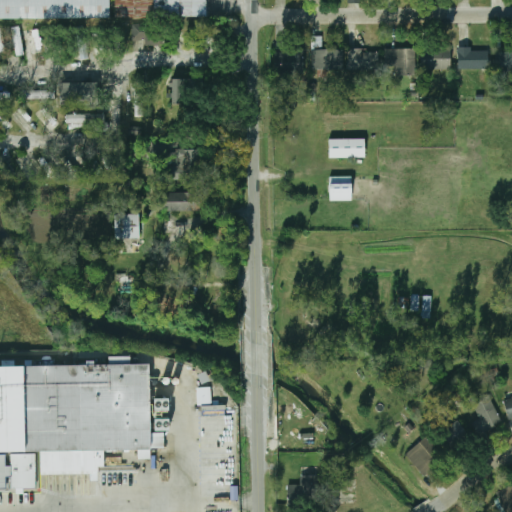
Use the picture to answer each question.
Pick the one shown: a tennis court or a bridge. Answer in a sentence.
I can see a bridge in this picture.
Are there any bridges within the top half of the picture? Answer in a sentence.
No, there is no bridge within the top half of the picture.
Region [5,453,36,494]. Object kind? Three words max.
building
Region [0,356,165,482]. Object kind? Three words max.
building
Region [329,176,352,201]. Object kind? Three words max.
barn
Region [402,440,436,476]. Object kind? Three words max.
house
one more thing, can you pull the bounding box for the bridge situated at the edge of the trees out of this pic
[241,321,274,398]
